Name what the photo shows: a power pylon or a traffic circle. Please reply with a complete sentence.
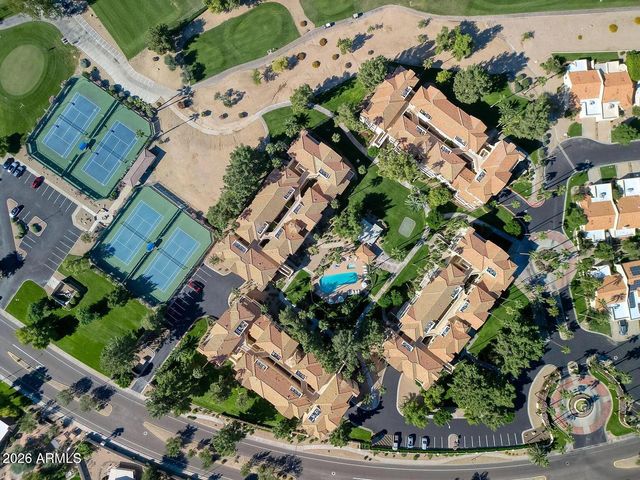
The image shows a traffic circle.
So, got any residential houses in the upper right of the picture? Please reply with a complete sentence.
Yes, a residential house can be seen in the upper right of the picture.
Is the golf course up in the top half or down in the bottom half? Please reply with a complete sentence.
The golf course sits in the top half of the picture.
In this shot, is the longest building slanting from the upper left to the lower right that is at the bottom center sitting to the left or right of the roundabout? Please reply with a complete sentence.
To the left of the roundabout is where the longest building slanting from the upper left to the lower right that is at the bottom center appears.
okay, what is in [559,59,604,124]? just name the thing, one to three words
house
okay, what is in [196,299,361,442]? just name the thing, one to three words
building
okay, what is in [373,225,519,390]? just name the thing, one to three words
building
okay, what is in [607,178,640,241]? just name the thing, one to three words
house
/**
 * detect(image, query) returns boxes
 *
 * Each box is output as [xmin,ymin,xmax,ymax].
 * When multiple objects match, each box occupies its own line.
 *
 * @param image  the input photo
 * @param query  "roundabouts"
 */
[551,376,613,436]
